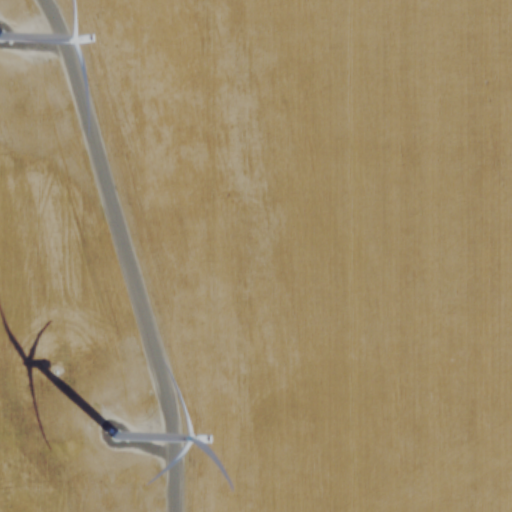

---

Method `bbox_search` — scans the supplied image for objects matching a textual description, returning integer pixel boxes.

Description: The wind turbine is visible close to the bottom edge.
[108,358,233,489]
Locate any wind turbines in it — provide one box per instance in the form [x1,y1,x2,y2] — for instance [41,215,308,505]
[108,358,233,489]
[0,0,96,118]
